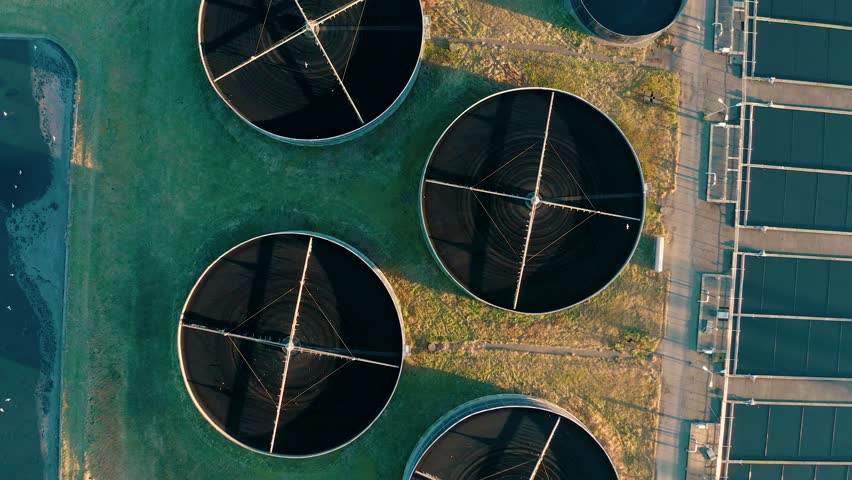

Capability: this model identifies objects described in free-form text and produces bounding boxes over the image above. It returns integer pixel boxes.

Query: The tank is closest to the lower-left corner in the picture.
[179,232,407,458]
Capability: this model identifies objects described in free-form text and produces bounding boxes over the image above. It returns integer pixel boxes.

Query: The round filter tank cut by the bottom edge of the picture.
[404,393,620,480]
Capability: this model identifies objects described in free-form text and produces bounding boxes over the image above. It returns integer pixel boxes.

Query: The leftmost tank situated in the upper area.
[198,0,424,148]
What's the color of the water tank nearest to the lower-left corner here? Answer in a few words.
black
